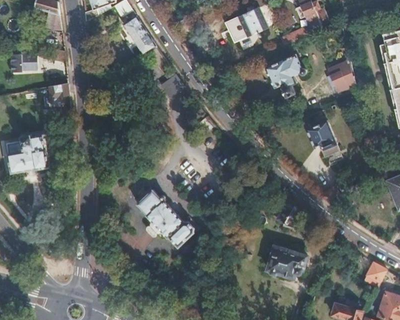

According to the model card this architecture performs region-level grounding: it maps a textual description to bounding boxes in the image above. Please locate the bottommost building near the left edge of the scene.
[8,135,48,174]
